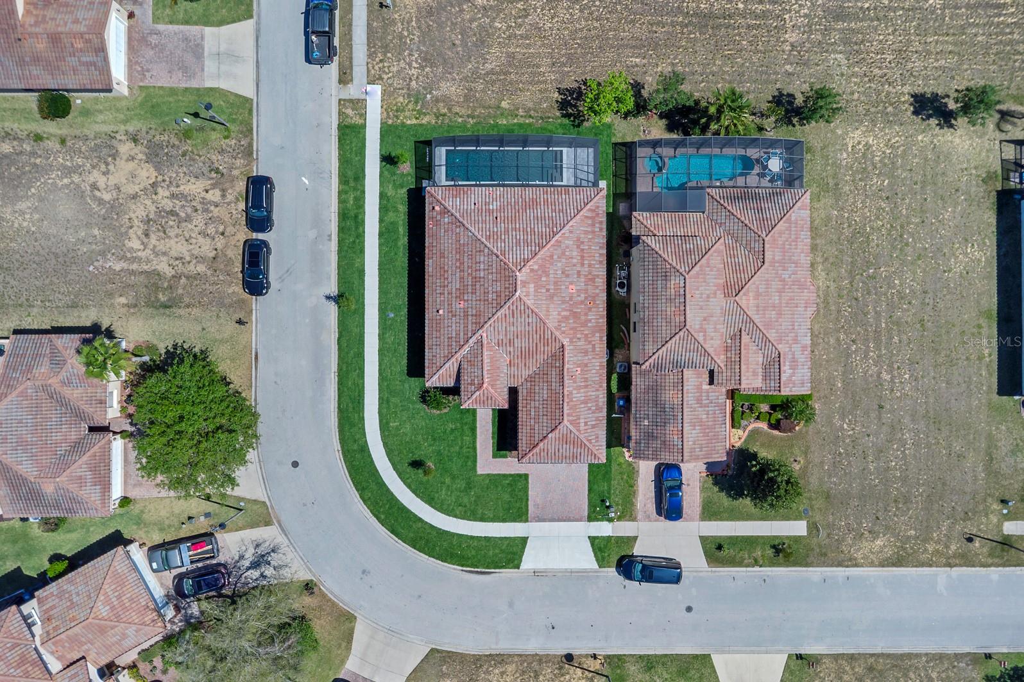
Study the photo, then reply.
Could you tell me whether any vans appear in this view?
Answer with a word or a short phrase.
Yes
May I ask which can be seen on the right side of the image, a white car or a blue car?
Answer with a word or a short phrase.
blue car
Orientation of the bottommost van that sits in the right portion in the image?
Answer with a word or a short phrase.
from side to side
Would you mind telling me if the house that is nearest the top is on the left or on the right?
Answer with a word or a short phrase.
left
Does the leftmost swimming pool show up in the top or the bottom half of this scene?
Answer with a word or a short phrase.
top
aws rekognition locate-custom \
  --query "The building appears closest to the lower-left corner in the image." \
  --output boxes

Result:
[0,542,177,682]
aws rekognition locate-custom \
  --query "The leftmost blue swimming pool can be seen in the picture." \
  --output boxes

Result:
[443,147,565,181]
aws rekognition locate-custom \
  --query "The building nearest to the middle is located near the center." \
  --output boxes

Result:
[424,185,607,464]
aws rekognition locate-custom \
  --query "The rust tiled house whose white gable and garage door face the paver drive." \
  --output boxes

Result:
[0,0,130,96]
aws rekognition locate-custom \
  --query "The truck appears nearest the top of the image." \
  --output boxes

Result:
[306,0,336,69]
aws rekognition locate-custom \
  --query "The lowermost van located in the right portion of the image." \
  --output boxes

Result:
[621,555,684,587]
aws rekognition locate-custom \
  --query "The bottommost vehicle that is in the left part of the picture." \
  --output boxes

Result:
[173,563,232,598]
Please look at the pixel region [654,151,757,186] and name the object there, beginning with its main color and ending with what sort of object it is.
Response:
blue swimming pool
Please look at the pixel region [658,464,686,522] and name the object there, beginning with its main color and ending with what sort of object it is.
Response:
blue car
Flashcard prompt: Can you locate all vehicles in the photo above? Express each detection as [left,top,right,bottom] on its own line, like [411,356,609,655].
[306,0,336,69]
[150,533,224,570]
[658,464,686,522]
[244,173,276,233]
[242,238,273,297]
[173,563,232,598]
[621,555,684,587]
